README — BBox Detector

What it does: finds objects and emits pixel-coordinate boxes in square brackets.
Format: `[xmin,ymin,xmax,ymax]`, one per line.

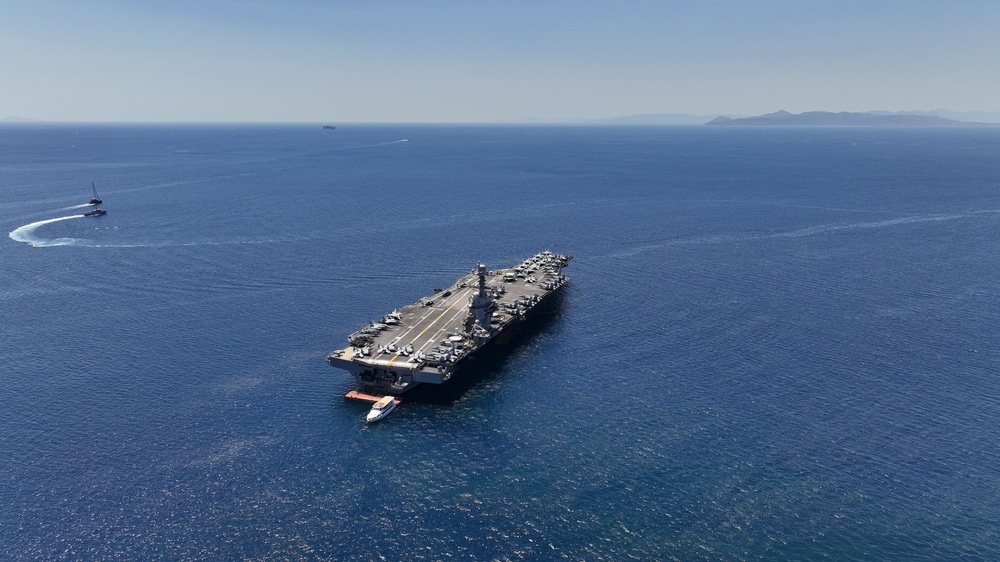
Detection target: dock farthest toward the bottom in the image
[344,390,401,406]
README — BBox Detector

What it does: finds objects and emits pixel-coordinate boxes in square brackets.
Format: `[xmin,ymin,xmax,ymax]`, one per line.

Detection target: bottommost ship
[366,395,396,422]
